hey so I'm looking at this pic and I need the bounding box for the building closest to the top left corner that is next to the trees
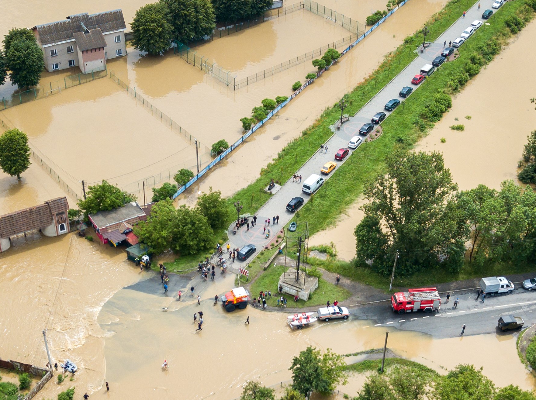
[31,9,129,74]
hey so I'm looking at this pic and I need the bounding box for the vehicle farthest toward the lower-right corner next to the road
[495,314,524,332]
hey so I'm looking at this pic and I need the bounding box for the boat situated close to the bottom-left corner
[60,359,78,373]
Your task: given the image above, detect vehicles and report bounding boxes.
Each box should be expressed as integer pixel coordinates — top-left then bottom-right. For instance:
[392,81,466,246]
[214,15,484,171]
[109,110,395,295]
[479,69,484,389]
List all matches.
[418,63,436,79]
[234,244,259,264]
[383,98,401,112]
[316,305,351,322]
[440,47,455,58]
[411,75,425,86]
[357,123,376,137]
[521,278,536,292]
[220,288,248,312]
[460,24,474,38]
[478,276,516,297]
[319,162,338,177]
[491,0,504,9]
[301,176,324,197]
[495,314,524,332]
[346,136,364,151]
[432,56,446,68]
[450,36,466,48]
[333,148,350,163]
[399,87,414,99]
[470,20,483,31]
[370,112,388,125]
[283,197,305,215]
[389,281,445,315]
[481,9,494,20]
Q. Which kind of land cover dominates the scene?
water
